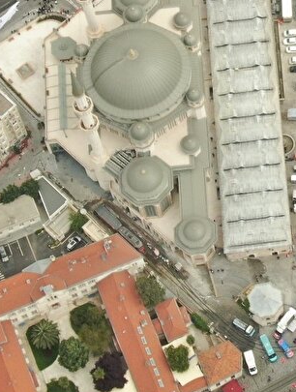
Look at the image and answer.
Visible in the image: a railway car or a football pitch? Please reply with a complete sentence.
The one in the frame is a railway car.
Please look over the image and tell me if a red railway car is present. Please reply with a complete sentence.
No, the picture doesn't show any red railway car.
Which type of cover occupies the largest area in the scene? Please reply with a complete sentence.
For the most part, this view shows buildings.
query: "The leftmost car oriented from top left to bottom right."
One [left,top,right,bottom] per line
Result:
[235,318,254,335]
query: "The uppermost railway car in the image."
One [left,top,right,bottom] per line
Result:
[96,205,122,231]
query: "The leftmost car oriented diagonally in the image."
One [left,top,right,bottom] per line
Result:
[66,236,82,252]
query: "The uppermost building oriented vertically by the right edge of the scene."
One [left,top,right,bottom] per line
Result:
[208,0,293,259]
